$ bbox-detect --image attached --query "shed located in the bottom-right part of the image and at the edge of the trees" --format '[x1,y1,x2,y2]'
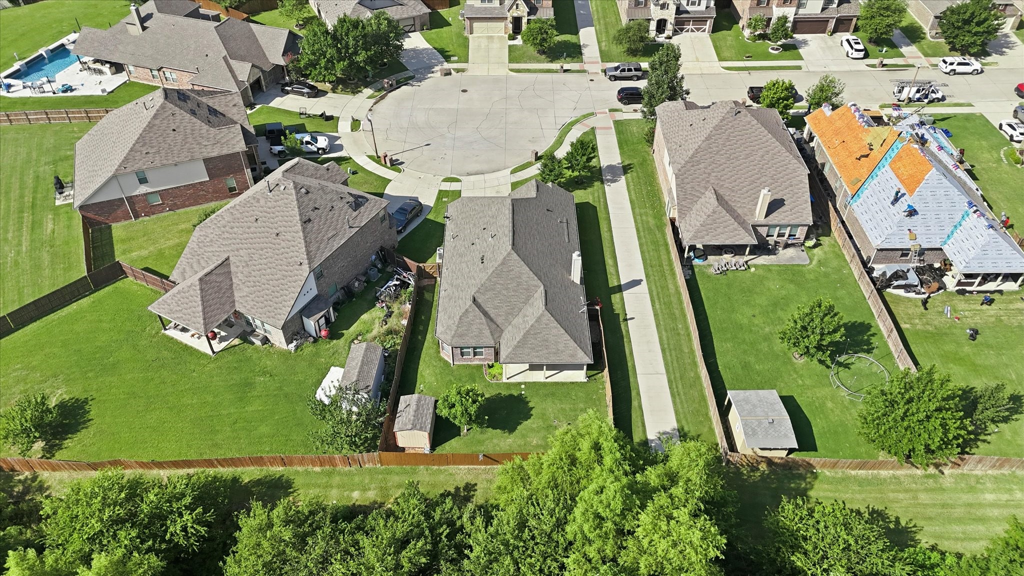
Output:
[726,390,798,455]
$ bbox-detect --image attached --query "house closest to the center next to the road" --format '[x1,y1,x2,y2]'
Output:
[434,175,593,382]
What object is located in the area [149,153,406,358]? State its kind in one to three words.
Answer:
house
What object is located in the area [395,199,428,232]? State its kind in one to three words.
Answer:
car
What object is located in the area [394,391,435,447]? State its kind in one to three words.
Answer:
shed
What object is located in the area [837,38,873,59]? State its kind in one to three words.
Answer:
car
